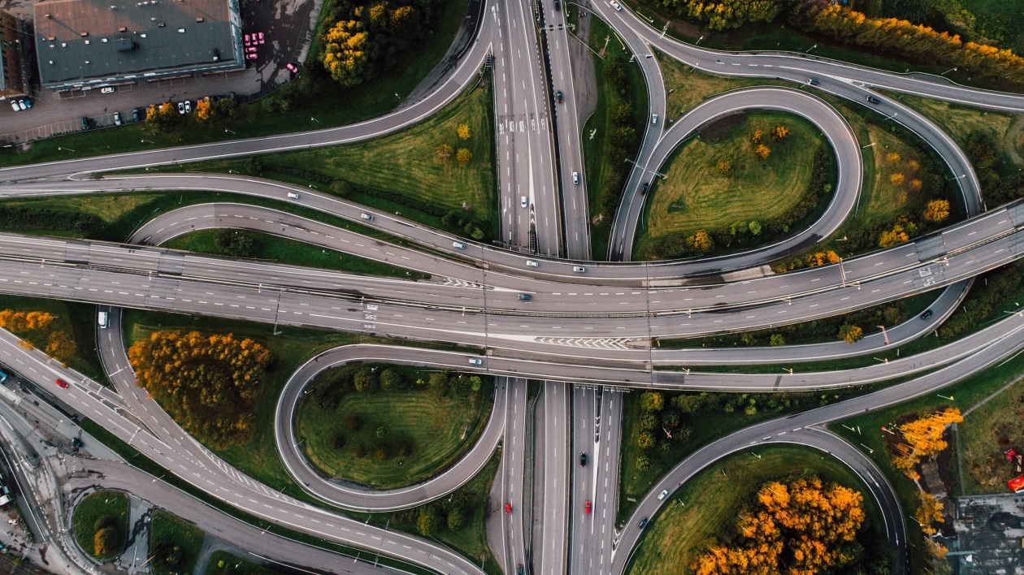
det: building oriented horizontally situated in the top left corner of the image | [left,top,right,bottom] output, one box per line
[28,0,251,92]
